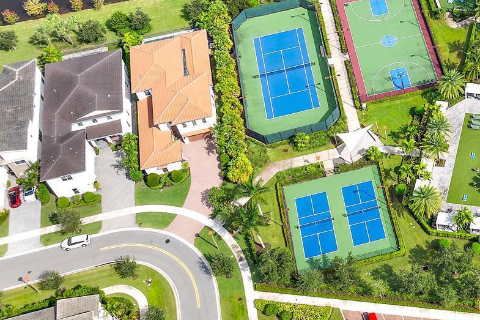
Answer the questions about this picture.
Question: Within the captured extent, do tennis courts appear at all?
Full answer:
Yes, a tennis court is visible in the scene.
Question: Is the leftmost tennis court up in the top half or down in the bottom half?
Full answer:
It is in the top half that the leftmost tennis court appears.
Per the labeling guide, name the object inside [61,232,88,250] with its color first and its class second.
white car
